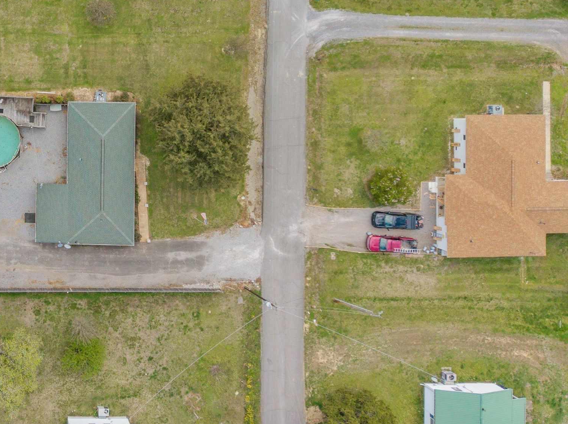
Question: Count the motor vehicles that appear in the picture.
2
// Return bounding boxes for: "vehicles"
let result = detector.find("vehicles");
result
[364,232,417,256]
[368,209,423,233]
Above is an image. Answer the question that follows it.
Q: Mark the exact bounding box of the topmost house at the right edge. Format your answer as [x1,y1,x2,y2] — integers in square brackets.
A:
[438,114,568,258]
